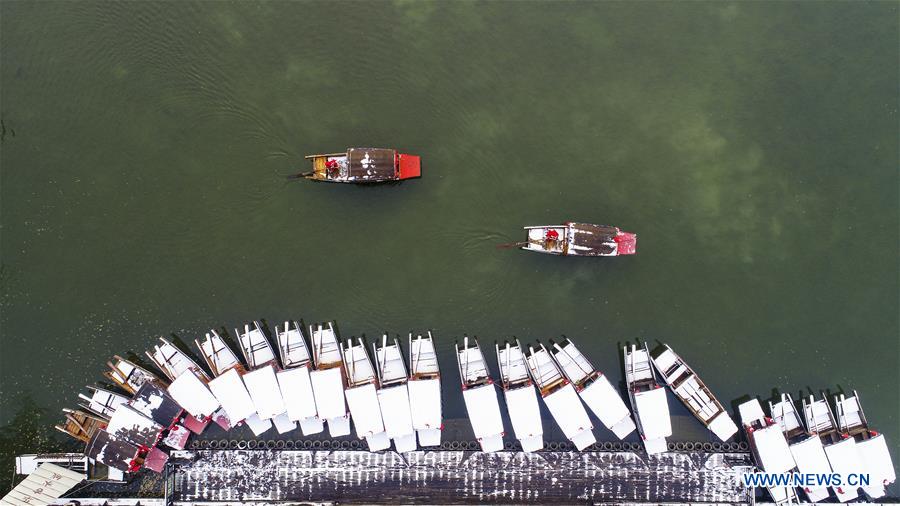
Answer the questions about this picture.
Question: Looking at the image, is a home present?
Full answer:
No, no home is visible in the view.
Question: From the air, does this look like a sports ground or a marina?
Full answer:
It's a marina.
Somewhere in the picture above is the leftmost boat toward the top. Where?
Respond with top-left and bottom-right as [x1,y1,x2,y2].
[305,149,419,182]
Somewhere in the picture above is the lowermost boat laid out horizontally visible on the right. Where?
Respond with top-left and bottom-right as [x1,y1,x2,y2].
[523,225,637,257]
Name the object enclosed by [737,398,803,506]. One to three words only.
boat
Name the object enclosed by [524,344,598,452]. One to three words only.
boat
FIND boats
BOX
[374,339,417,454]
[15,452,128,482]
[737,398,803,506]
[194,330,272,437]
[305,149,419,182]
[832,390,893,504]
[144,337,236,430]
[497,339,544,454]
[236,322,298,433]
[652,345,740,443]
[768,394,834,505]
[523,225,637,257]
[309,322,351,437]
[626,341,671,456]
[551,340,636,441]
[103,356,208,436]
[524,344,598,452]
[408,332,442,447]
[275,322,323,437]
[456,339,504,453]
[76,387,189,450]
[340,338,390,452]
[801,392,864,505]
[54,409,168,473]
